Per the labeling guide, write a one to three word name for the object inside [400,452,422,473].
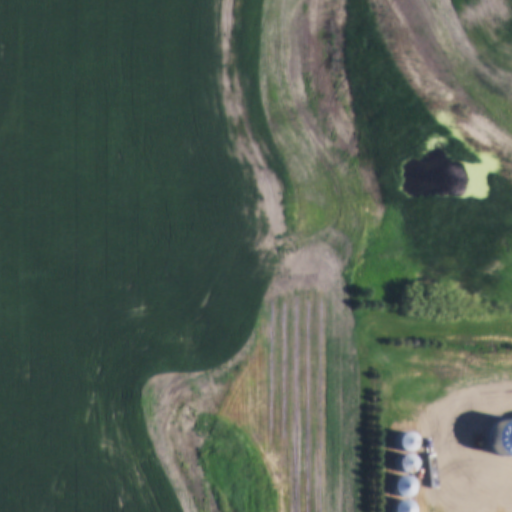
silo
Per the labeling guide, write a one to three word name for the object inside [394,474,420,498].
silo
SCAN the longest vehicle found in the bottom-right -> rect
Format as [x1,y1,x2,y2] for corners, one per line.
[427,438,440,488]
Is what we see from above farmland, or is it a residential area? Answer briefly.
farmland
